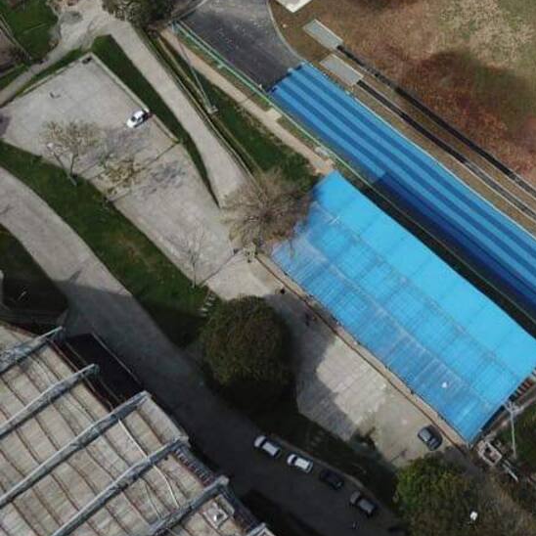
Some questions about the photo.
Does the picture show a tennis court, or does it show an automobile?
automobile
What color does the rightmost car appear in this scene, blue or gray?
gray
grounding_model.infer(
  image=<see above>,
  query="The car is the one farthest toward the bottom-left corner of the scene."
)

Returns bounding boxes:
[252,435,283,459]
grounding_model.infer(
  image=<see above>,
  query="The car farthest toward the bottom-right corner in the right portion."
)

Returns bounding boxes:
[417,426,442,450]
